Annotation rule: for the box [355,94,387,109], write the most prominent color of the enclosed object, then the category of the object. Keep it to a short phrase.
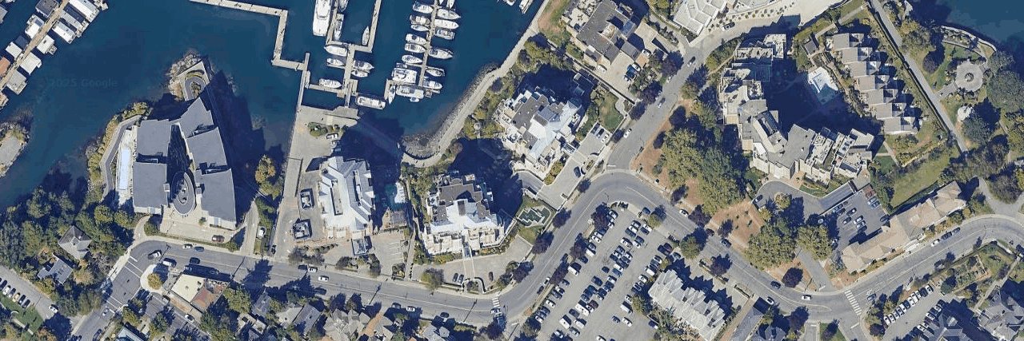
white boat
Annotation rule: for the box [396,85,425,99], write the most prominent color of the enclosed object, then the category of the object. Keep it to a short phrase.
white boat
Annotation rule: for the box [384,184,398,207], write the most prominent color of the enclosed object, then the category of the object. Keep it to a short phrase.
blue swimming pool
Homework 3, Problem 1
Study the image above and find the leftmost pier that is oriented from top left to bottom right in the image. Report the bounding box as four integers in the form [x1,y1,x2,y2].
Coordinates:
[188,0,308,72]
